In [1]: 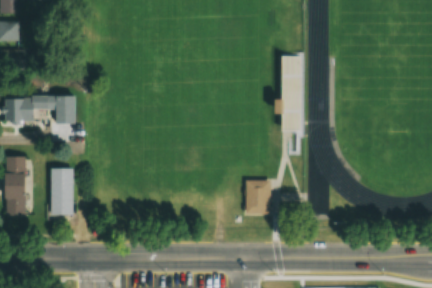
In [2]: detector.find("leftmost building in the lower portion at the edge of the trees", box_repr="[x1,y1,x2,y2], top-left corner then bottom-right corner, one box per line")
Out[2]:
[4,157,25,216]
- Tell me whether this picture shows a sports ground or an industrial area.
sports ground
